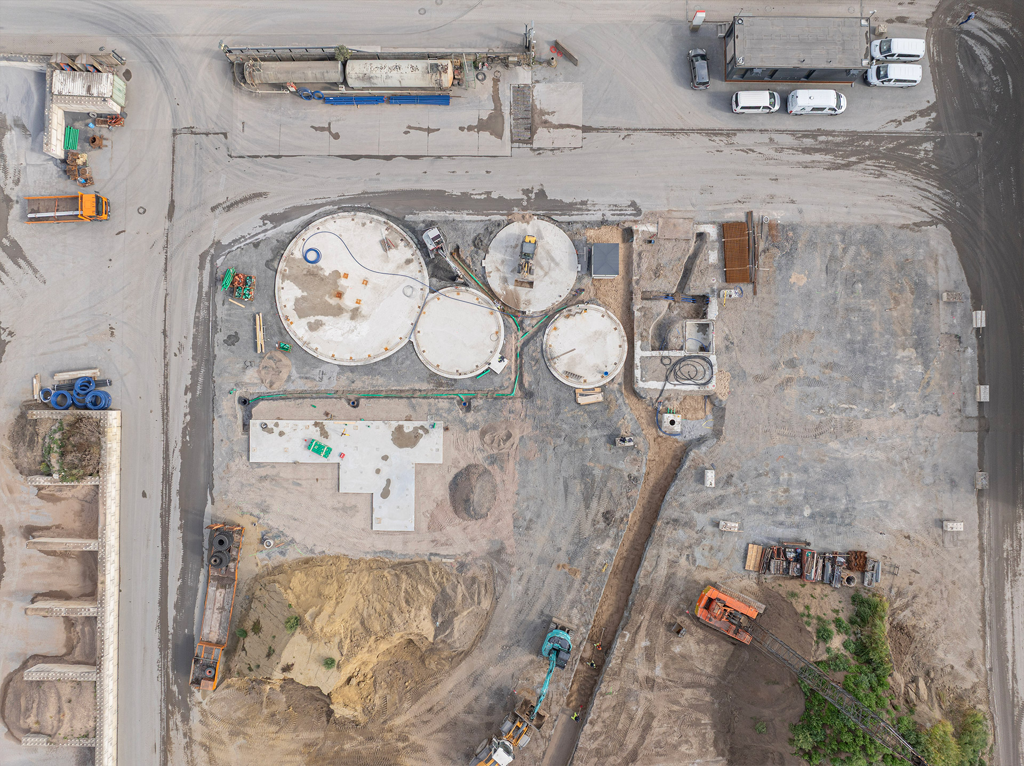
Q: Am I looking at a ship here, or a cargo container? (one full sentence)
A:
I can see a cargo container in this picture.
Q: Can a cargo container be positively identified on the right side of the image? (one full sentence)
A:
No, there's no cargo container to be seen on the right side of the image.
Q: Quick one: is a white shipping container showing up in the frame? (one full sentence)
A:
Yes, a white shipping container is visible in the scene.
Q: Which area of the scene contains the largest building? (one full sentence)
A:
The largest building is located in the top right region of the scene.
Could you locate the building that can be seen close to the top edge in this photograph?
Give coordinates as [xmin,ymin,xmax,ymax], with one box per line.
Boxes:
[724,8,881,85]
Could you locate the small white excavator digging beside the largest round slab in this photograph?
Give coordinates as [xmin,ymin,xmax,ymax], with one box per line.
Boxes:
[414,224,463,276]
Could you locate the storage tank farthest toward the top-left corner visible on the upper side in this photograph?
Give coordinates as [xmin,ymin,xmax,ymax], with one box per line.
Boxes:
[239,53,345,90]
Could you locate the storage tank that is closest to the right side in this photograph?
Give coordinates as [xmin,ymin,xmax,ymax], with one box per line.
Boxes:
[344,54,453,97]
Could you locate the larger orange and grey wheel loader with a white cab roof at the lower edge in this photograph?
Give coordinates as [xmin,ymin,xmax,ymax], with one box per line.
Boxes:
[473,693,544,766]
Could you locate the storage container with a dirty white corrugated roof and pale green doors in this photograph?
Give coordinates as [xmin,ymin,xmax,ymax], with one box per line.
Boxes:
[51,70,128,110]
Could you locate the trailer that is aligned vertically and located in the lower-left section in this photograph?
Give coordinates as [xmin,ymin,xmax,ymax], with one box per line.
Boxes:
[185,524,239,696]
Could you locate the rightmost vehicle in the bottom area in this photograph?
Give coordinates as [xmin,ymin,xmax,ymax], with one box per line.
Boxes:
[527,619,574,721]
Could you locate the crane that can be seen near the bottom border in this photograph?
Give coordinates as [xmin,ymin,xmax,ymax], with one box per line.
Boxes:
[694,582,947,766]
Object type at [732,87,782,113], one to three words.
vehicle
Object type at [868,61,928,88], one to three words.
vehicle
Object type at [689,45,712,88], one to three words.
car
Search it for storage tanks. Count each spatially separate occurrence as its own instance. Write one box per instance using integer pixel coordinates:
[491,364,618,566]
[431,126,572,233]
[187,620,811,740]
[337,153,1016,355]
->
[239,53,345,90]
[344,54,453,97]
